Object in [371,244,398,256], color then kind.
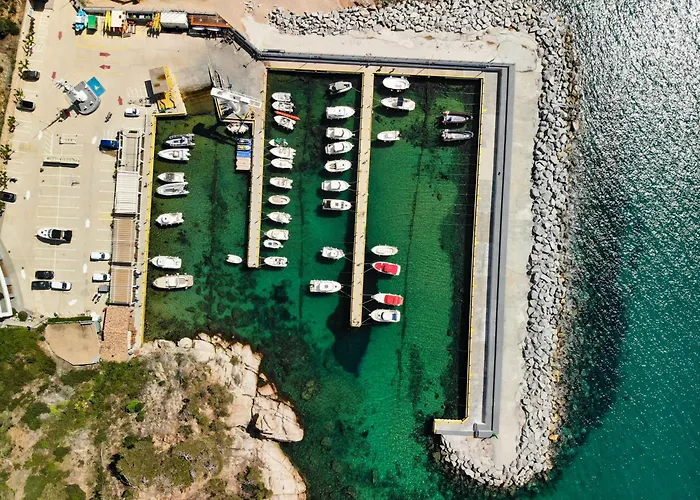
white boat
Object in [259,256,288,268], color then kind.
white boat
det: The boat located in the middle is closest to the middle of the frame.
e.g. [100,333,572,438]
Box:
[319,245,355,261]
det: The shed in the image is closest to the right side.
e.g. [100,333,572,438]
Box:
[190,14,230,32]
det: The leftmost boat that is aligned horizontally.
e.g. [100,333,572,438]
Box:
[36,231,75,243]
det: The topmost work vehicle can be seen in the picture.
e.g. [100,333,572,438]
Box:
[75,10,89,29]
